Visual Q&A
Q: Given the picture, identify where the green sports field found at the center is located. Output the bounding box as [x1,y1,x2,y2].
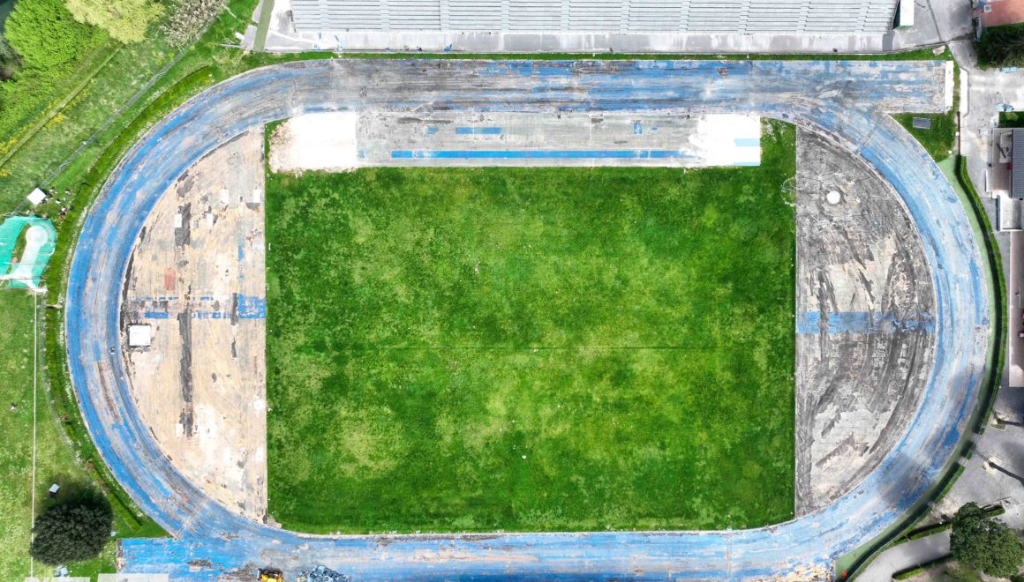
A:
[266,118,795,532]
